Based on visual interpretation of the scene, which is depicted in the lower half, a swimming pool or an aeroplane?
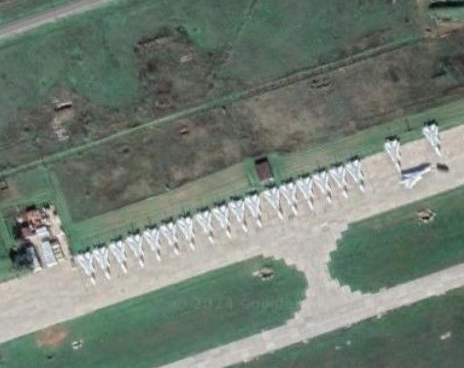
aeroplane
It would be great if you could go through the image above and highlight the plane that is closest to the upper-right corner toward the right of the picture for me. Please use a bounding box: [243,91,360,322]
[423,124,442,158]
